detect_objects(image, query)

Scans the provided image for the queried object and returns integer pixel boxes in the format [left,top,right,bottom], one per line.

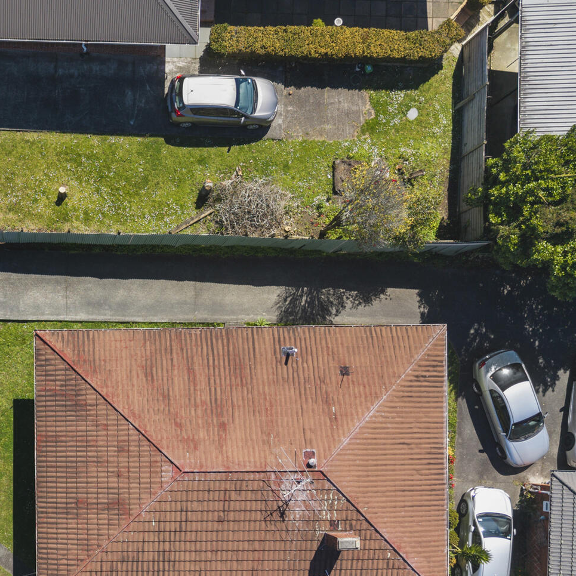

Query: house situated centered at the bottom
[31,322,451,576]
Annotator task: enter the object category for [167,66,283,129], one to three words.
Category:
car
